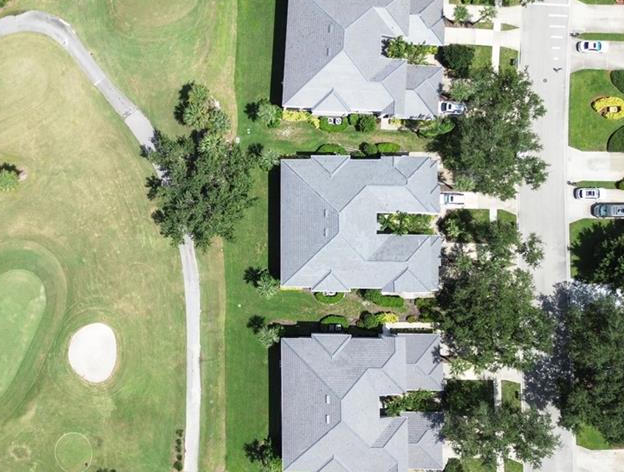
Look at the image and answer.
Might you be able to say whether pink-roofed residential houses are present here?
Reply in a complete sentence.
No, the frame has no pink-roofed residential house in it.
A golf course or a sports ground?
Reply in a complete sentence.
The picture captures a golf course.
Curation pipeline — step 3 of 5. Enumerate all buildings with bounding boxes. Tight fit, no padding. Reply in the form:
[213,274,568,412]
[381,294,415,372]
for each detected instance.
[283,0,445,122]
[280,331,443,472]
[279,155,439,293]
